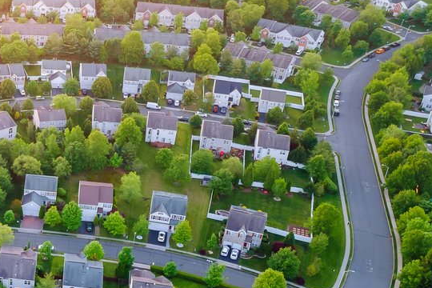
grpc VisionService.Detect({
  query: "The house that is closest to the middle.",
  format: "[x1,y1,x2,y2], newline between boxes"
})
[199,121,235,151]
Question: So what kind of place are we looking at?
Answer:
residential area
